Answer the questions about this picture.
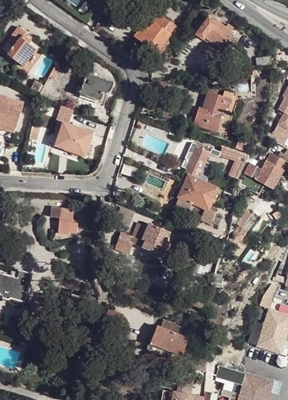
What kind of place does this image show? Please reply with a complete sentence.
This looks like a residential area.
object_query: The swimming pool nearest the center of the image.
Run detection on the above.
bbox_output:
[146,175,166,190]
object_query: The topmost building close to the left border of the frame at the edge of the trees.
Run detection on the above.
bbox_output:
[8,28,36,66]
